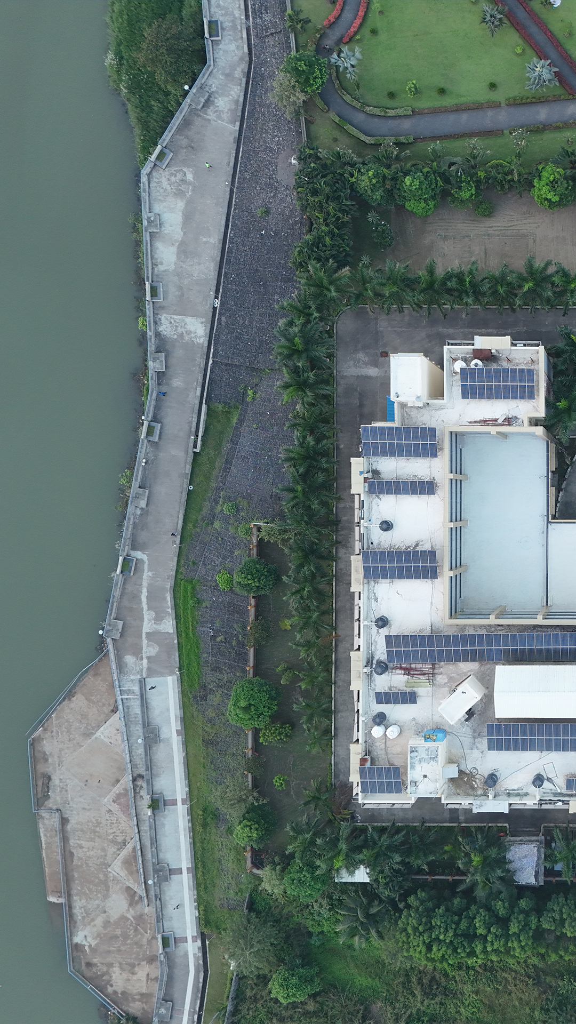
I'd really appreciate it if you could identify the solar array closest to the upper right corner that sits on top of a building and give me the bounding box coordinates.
[460,368,534,400]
